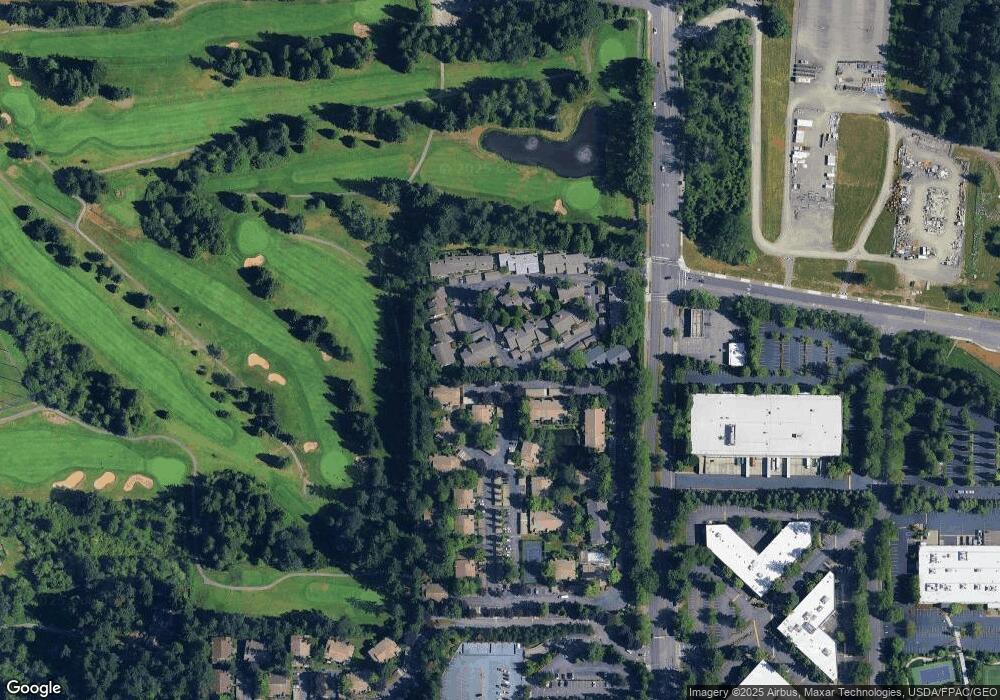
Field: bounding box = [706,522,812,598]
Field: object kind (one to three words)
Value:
building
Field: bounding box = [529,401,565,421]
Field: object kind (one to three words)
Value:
house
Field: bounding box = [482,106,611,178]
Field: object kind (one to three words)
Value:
pond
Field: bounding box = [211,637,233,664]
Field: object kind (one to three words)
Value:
house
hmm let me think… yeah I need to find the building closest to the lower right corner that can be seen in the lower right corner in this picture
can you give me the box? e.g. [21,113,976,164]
[919,546,1000,610]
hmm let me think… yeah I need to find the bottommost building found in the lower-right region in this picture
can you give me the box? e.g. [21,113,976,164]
[729,660,807,700]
